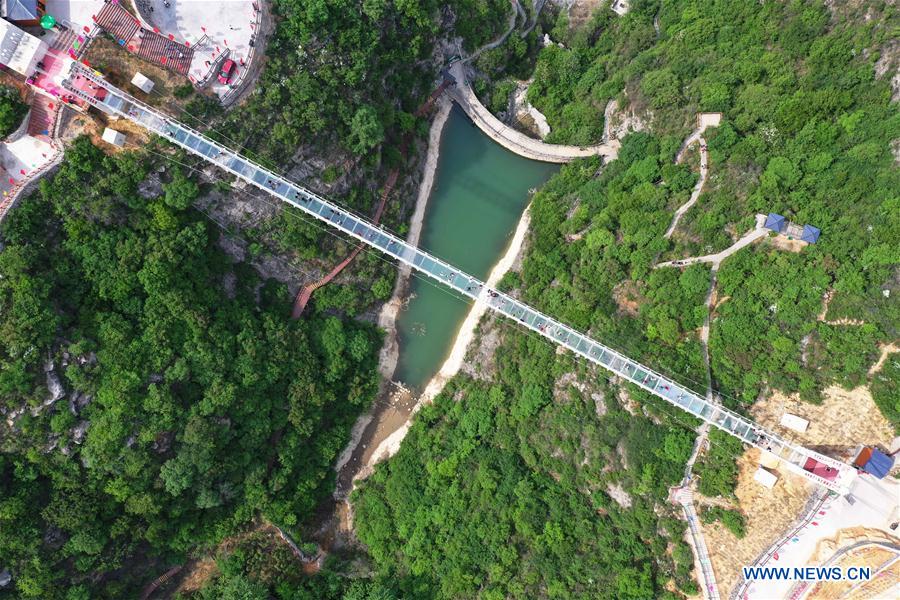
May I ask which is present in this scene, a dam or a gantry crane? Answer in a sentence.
I can see a dam in this picture.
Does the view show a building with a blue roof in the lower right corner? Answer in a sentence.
Yes, looking in the lower right corner, one can make out a building with a blue roof.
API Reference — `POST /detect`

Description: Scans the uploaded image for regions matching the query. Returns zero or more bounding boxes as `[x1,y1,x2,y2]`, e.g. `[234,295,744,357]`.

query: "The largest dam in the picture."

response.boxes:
[445,62,610,167]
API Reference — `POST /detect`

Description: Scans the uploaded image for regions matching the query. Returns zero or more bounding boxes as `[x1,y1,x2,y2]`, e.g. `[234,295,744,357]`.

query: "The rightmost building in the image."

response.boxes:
[856,446,895,481]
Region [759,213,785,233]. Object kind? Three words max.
building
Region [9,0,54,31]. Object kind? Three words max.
building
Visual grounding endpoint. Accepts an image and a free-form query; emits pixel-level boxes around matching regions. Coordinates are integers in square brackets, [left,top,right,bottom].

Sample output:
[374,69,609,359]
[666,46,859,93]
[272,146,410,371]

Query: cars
[218,59,236,86]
